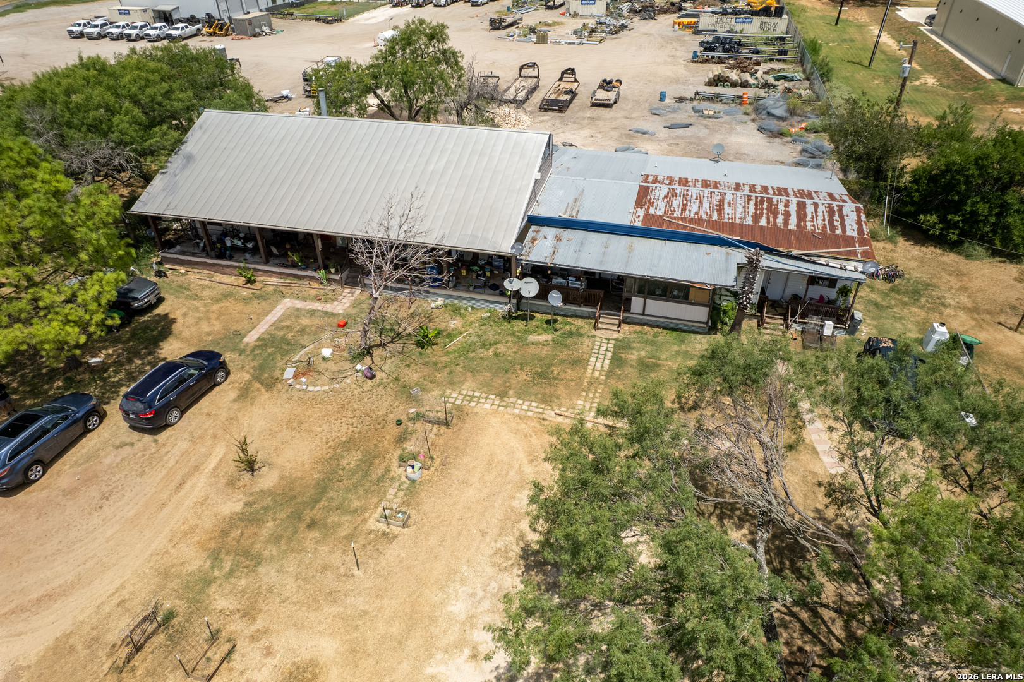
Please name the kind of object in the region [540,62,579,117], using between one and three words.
trailer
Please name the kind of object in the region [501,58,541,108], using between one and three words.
trailer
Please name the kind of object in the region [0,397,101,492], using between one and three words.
car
